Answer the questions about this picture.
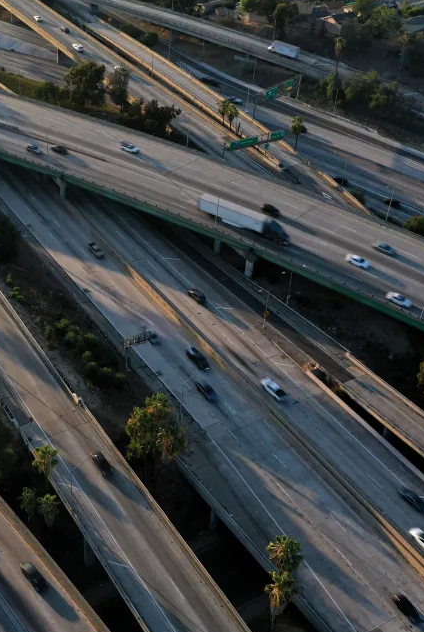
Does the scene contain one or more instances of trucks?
Yes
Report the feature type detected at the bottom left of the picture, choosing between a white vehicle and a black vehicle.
black vehicle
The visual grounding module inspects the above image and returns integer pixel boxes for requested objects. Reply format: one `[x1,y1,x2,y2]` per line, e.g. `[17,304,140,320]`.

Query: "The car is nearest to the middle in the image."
[186,287,207,304]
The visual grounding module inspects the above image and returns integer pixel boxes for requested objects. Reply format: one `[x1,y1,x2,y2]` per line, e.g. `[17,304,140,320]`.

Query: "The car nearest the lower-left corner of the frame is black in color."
[17,555,51,596]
